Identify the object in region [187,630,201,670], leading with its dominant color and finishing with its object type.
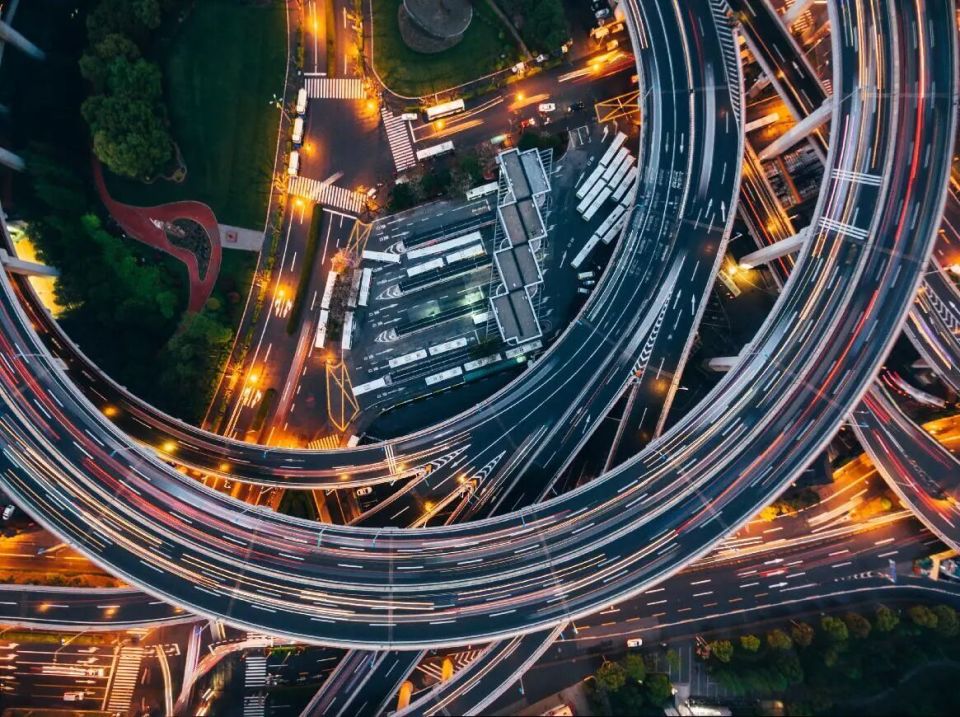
white vehicle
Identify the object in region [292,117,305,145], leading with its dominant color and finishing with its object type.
white vehicle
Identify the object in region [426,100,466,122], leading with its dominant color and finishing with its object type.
white bus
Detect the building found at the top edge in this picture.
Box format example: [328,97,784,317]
[397,0,472,55]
